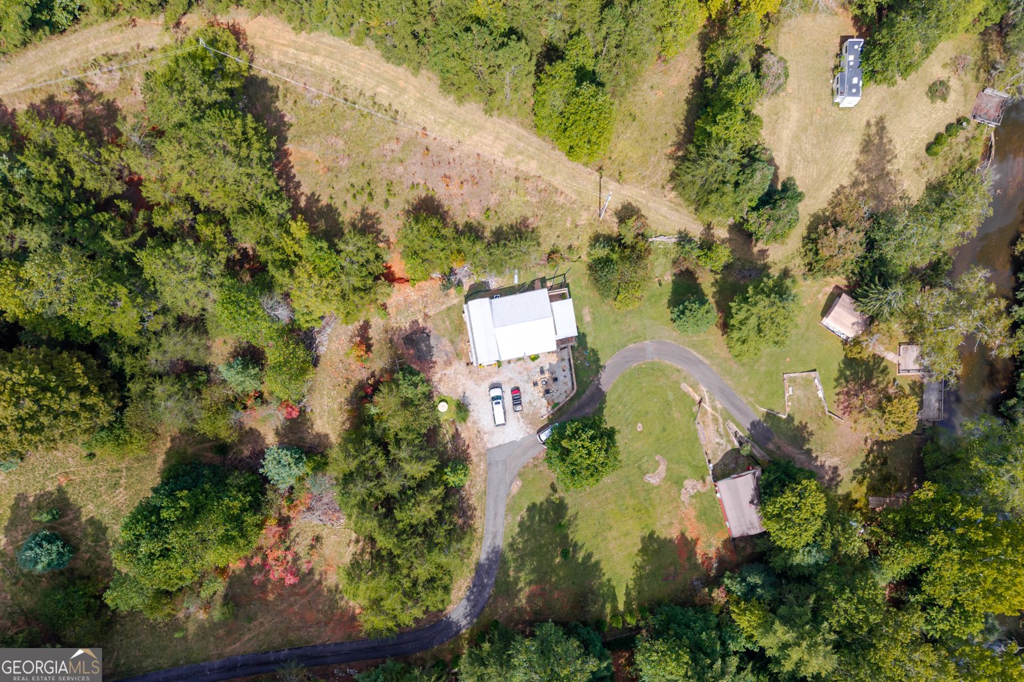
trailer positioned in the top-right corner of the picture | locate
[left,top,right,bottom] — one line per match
[831,40,862,118]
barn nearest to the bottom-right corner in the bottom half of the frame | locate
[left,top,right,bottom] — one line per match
[713,470,767,540]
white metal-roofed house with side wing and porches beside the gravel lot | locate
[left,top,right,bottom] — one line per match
[463,277,577,370]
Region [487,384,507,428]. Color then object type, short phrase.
white car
